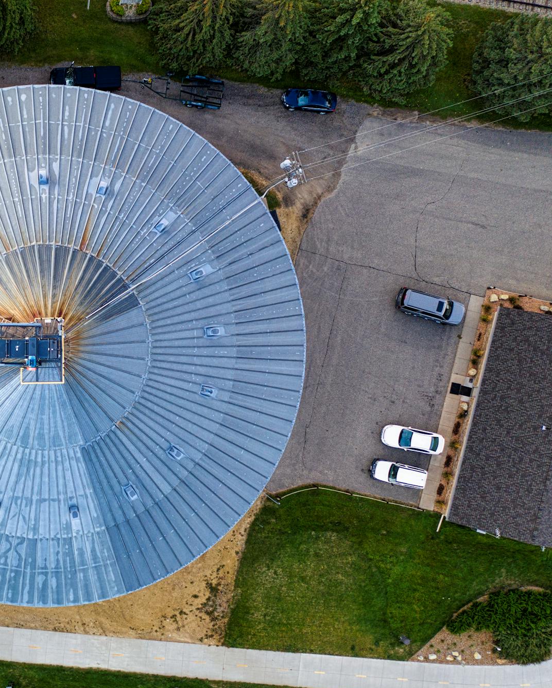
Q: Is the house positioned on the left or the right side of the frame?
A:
right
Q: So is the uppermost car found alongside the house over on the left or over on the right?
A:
right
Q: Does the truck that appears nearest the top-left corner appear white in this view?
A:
No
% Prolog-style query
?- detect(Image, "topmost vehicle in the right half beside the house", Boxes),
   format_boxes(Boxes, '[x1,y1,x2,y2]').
[392,286,465,324]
